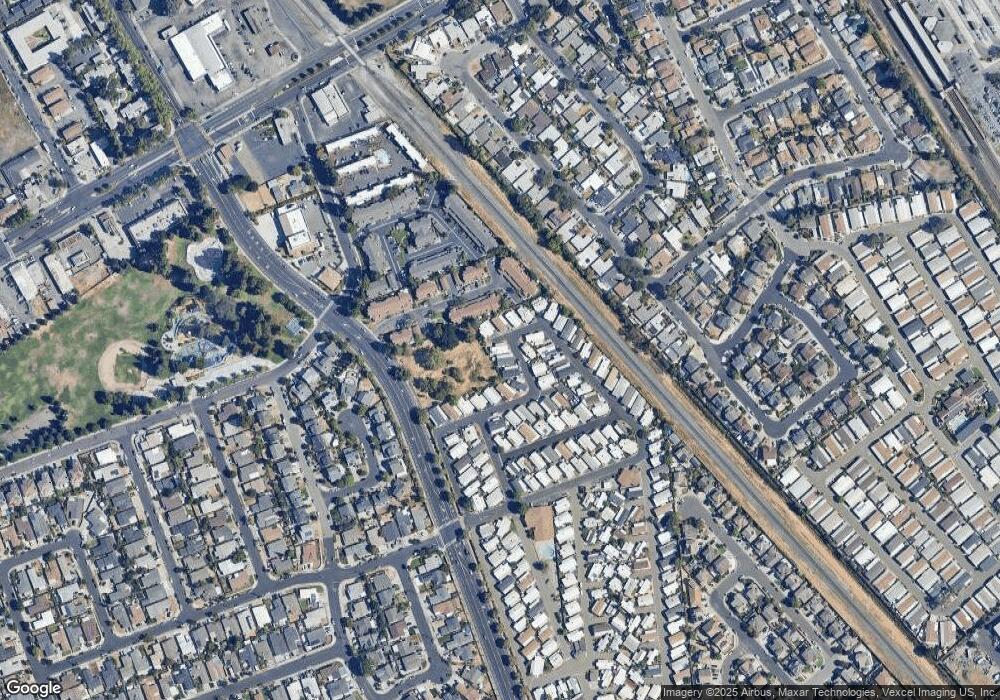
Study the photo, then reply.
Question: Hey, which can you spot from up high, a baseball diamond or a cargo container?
baseball diamond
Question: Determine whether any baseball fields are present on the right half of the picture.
No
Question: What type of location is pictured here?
residential area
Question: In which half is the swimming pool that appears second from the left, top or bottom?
bottom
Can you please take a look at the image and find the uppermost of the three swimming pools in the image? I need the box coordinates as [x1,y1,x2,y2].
[374,149,390,166]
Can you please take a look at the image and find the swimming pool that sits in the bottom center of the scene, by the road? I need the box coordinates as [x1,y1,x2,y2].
[536,541,556,563]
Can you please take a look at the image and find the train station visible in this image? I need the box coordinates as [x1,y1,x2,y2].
[882,0,963,95]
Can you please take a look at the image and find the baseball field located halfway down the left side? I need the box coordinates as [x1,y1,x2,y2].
[98,339,149,392]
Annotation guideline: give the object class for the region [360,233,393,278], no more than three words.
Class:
building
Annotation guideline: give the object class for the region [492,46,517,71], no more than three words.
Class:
house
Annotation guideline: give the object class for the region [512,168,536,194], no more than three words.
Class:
house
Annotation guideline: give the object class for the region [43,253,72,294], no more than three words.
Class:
building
